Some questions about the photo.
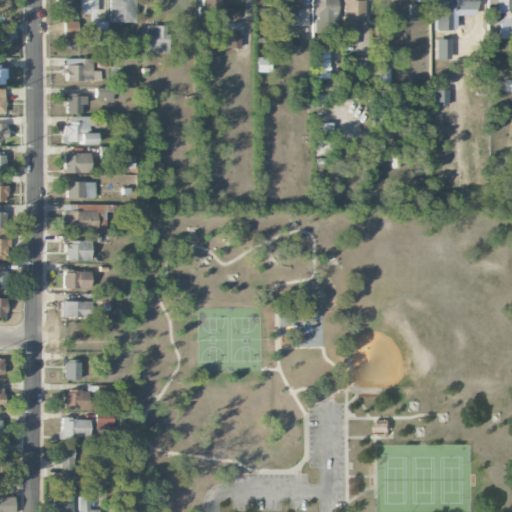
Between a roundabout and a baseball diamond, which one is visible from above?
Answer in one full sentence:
The image shows a baseball diamond.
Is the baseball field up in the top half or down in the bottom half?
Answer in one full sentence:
The baseball field is in the bottom half of the image.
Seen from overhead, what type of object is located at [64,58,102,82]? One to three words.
house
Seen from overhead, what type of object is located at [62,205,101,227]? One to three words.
house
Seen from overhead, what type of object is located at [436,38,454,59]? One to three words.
building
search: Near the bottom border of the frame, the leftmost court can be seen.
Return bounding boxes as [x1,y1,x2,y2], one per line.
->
[378,445,410,512]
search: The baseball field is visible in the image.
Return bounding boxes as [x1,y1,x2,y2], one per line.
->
[350,331,404,388]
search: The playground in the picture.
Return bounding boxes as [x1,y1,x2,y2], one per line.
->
[281,289,329,347]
